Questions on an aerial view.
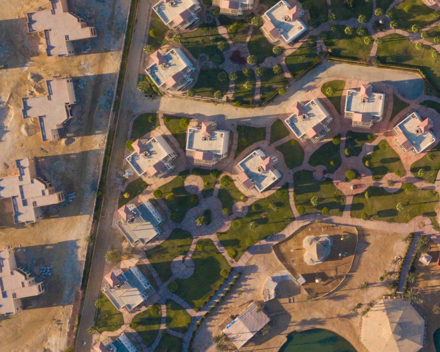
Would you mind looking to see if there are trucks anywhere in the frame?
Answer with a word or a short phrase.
No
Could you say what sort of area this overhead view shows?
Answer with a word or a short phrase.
residential area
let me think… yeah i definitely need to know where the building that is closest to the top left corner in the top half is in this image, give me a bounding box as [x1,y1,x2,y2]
[26,0,97,56]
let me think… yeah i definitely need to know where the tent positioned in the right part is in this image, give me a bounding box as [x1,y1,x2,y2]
[304,235,335,265]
